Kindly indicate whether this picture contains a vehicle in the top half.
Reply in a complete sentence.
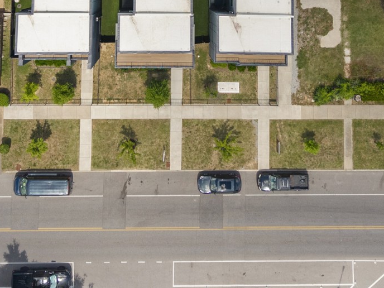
No, no vehicle is visible in the top half.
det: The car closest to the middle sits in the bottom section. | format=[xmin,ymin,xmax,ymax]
[196,171,242,194]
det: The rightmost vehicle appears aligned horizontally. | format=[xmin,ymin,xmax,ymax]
[257,169,310,193]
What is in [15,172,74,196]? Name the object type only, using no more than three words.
vehicle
